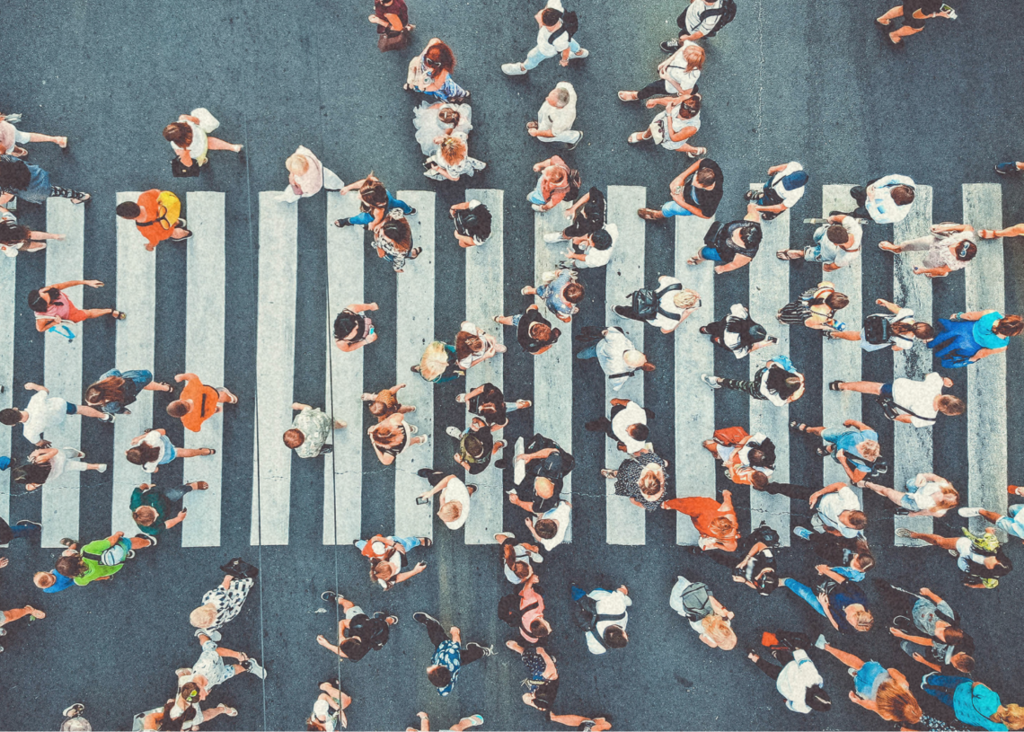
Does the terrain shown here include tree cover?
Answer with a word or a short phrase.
No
